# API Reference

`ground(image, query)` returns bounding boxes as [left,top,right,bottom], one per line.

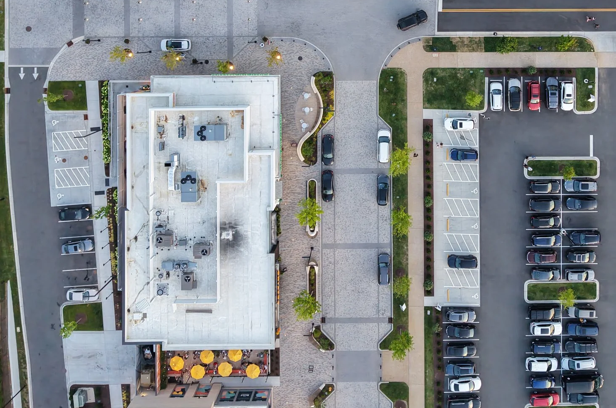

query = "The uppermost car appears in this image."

[395,9,429,31]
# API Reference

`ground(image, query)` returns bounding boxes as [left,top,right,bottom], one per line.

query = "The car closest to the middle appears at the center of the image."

[320,170,335,202]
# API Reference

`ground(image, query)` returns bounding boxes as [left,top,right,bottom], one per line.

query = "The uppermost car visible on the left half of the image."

[161,38,192,52]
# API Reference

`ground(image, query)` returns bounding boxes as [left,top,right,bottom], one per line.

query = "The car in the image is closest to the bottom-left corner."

[66,287,100,303]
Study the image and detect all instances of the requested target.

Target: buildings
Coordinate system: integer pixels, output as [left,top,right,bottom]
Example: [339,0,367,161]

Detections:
[122,73,285,351]
[128,385,274,408]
